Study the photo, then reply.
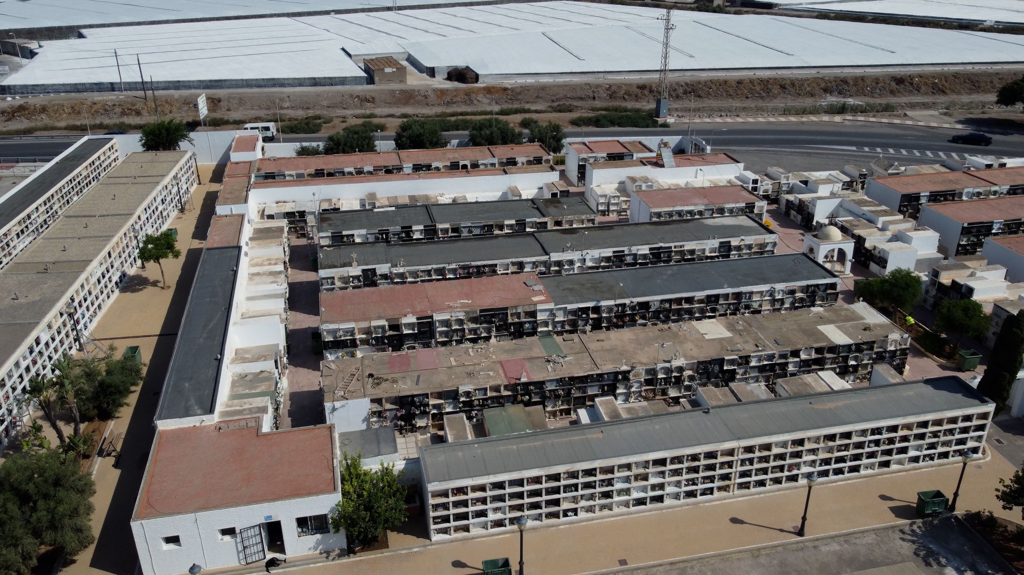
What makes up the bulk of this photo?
buildings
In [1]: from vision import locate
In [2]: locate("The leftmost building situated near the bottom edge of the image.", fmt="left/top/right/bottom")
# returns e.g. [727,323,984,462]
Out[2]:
[129,417,347,575]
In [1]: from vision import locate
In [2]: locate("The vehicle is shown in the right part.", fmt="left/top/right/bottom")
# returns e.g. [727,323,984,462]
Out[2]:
[951,130,987,145]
